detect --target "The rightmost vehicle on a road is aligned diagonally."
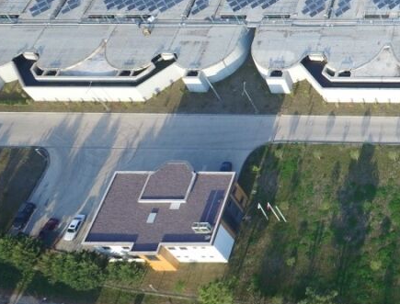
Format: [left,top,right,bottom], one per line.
[60,209,92,248]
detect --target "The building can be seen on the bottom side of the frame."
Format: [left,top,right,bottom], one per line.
[82,163,251,271]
